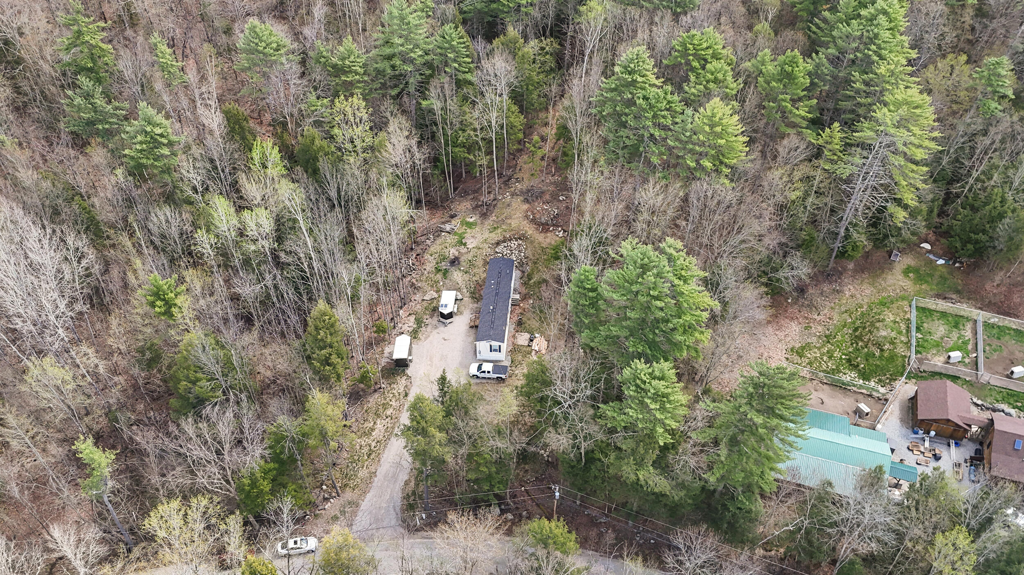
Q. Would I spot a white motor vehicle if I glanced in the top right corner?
No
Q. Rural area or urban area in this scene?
rural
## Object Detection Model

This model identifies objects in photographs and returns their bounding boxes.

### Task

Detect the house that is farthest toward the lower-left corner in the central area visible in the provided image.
[475,255,515,361]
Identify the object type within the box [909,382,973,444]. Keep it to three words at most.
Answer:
barn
